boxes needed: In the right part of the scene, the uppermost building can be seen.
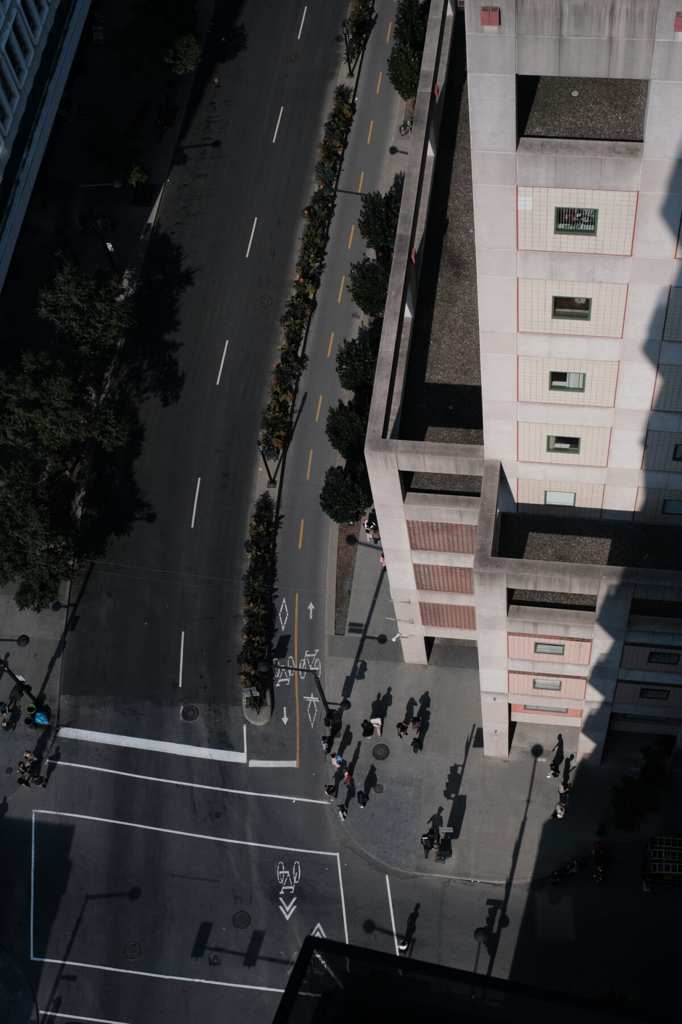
[365,0,682,775]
